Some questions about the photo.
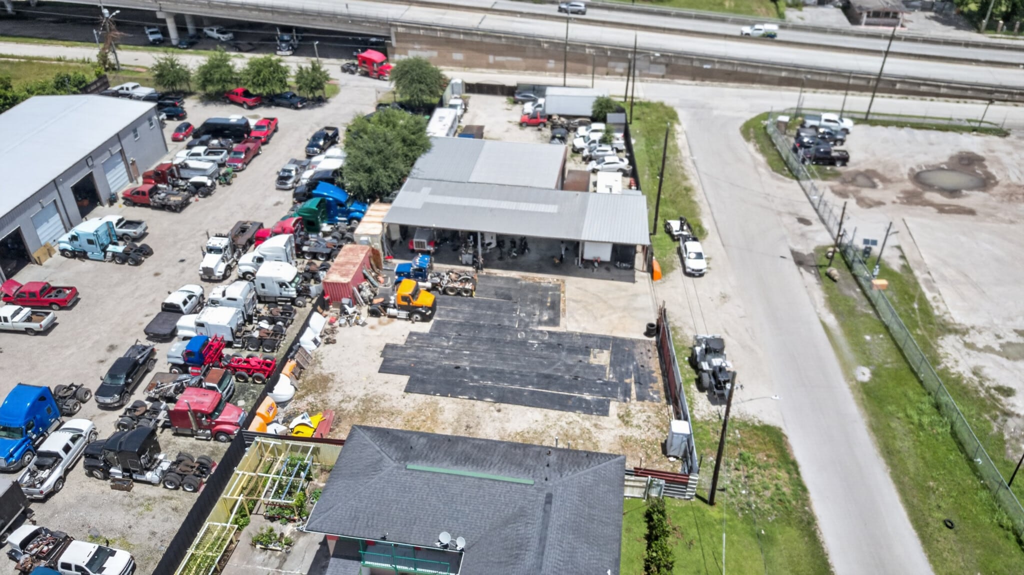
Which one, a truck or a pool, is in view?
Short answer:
truck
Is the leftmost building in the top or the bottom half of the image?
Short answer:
top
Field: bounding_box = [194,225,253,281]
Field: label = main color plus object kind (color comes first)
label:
white truck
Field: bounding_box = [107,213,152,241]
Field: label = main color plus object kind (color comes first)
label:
gray truck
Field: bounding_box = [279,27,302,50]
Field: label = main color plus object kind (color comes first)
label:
black truck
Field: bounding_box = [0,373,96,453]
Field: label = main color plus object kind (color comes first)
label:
blue truck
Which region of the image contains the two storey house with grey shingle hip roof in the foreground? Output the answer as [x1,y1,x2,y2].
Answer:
[302,424,628,575]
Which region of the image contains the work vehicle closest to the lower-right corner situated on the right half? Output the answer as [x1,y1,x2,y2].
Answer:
[686,323,743,392]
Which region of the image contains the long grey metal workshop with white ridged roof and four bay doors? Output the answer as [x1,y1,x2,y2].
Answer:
[0,93,168,278]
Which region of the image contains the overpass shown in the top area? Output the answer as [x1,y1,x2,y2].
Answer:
[0,0,1024,102]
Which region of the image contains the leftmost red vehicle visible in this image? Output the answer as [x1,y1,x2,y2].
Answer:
[0,271,86,310]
